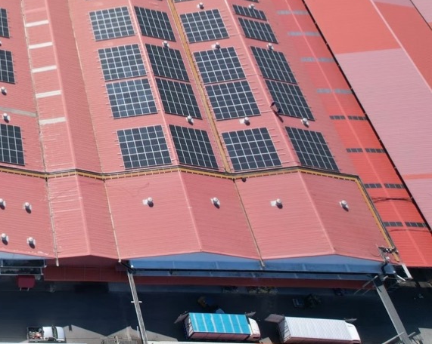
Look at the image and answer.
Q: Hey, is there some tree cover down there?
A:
No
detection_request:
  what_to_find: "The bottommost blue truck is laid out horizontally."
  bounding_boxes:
[177,313,264,344]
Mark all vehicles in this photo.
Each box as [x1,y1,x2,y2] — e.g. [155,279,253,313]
[270,318,364,344]
[25,326,68,344]
[177,313,264,344]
